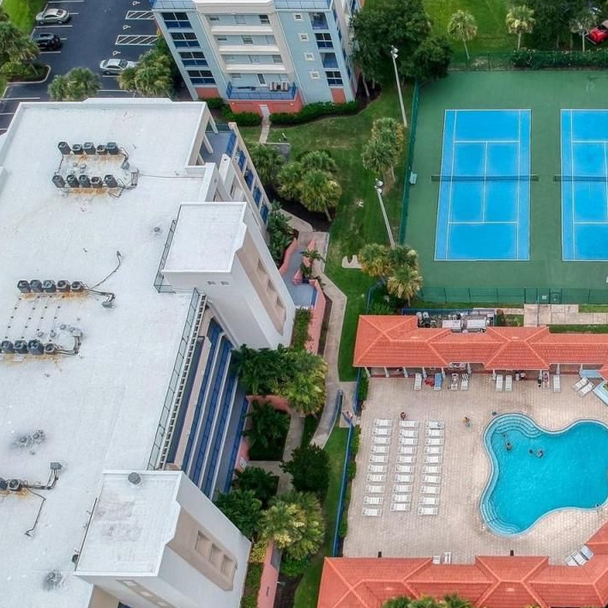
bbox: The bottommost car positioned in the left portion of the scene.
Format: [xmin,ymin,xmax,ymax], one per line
[98,56,136,73]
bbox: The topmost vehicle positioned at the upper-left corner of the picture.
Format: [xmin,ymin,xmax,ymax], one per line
[33,5,68,24]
